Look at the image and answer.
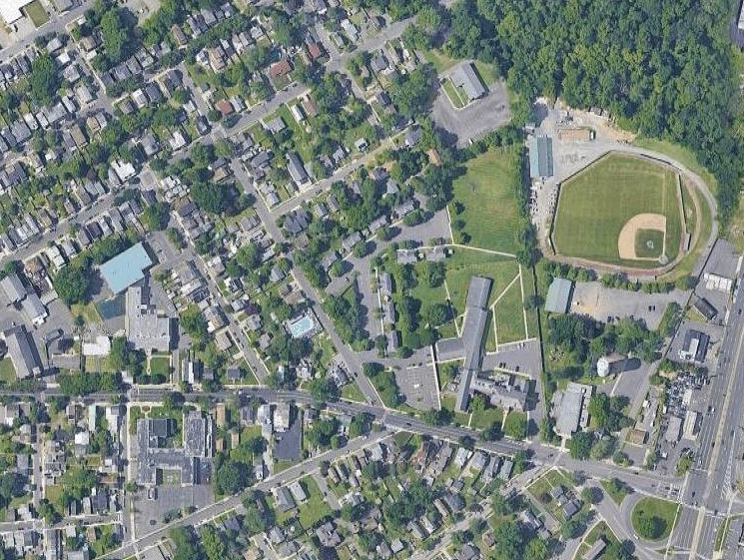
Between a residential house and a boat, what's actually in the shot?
residential house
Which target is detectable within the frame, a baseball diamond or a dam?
baseball diamond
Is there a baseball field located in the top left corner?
No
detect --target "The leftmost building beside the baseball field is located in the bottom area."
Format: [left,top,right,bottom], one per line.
[455,277,492,412]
